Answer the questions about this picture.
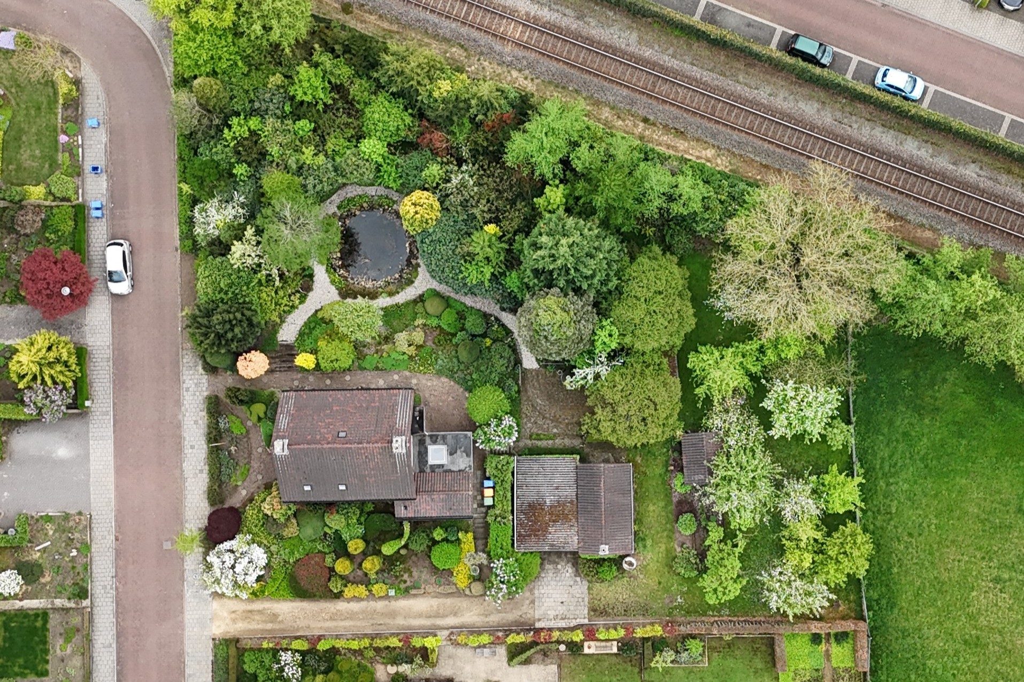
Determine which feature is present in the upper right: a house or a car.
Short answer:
car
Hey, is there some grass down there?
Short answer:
Yes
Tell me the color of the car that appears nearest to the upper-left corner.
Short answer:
white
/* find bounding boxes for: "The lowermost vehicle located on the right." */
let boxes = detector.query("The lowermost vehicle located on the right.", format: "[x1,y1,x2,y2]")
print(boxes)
[870,65,926,103]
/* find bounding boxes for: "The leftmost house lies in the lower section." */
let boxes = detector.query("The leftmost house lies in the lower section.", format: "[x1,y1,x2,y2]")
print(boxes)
[270,387,473,521]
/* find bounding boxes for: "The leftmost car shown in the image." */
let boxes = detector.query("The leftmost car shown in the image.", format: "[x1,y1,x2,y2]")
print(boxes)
[104,240,135,295]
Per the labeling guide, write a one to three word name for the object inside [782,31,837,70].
car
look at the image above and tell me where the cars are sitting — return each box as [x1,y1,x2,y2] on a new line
[870,65,926,103]
[997,0,1024,17]
[782,31,837,70]
[104,240,135,295]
